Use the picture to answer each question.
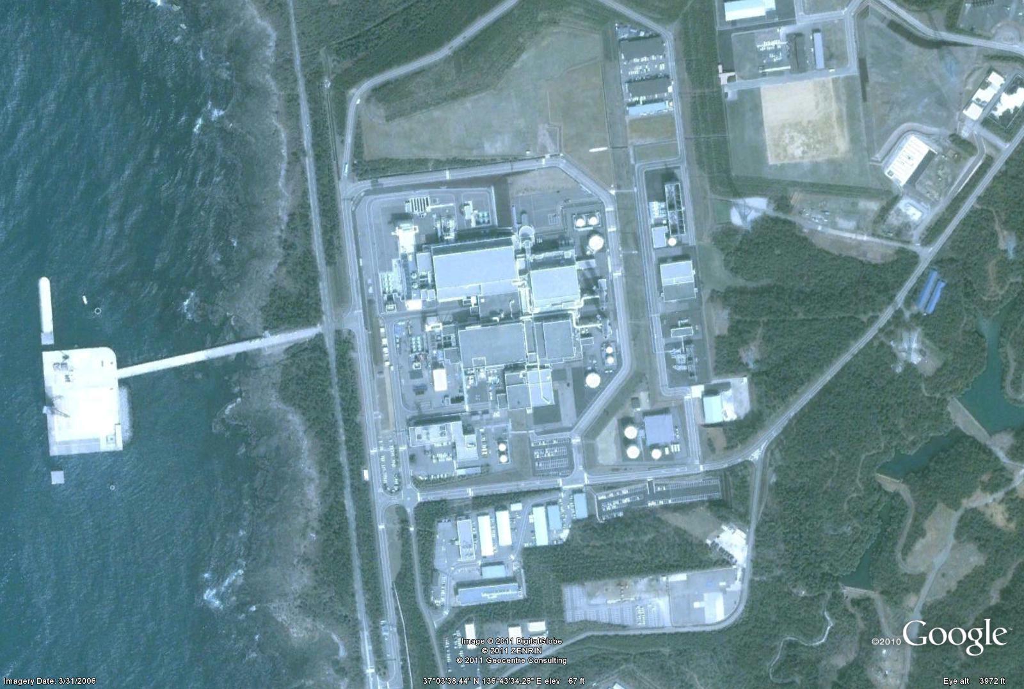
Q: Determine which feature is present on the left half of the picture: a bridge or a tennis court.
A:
bridge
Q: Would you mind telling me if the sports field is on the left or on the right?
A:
right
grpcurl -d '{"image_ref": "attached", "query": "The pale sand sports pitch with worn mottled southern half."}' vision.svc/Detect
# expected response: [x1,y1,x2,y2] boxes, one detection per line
[761,79,848,166]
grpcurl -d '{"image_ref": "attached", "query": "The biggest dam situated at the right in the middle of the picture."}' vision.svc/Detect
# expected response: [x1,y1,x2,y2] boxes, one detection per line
[950,395,990,439]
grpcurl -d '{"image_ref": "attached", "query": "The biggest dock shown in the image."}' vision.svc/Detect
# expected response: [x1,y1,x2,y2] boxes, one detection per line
[42,347,123,456]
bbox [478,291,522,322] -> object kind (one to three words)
building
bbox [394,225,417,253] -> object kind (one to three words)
house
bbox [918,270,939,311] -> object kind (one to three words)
shed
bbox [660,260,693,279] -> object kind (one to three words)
building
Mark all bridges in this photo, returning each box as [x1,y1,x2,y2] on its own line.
[117,325,320,379]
